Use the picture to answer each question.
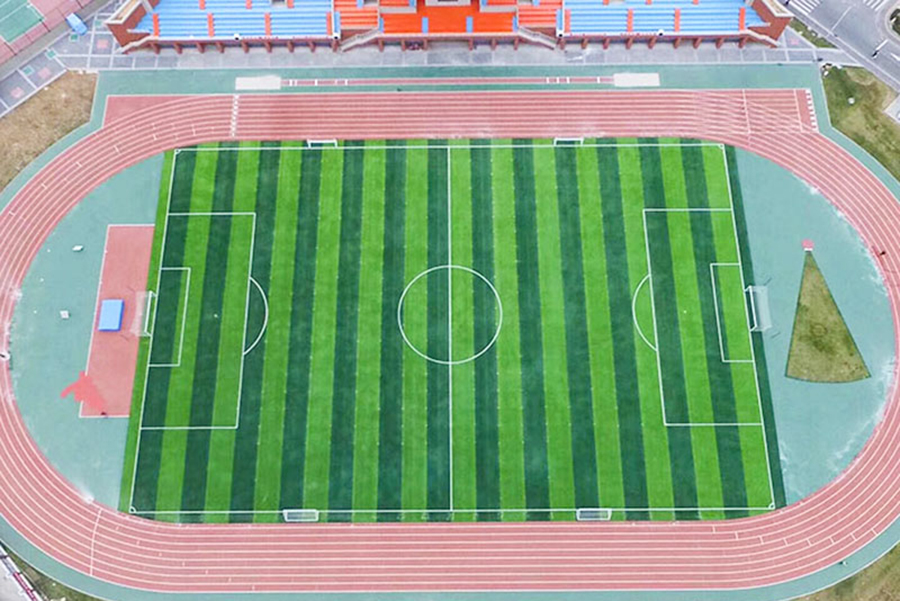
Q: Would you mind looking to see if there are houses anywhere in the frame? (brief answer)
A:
No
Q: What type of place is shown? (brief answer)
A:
sports ground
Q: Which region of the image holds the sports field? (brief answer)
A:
center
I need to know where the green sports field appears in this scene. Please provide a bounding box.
[115,136,789,524]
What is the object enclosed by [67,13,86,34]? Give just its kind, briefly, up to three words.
vehicle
